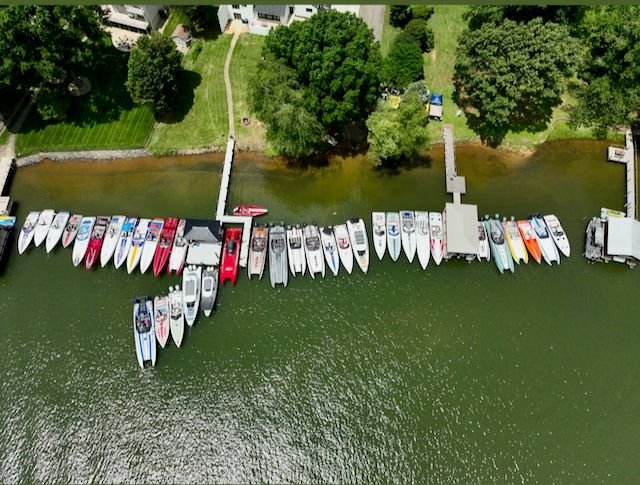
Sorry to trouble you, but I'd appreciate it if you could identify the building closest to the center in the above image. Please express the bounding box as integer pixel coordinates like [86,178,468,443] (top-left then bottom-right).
[441,205,479,264]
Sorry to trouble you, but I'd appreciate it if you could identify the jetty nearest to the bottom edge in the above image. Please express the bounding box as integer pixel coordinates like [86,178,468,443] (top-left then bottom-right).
[186,240,222,268]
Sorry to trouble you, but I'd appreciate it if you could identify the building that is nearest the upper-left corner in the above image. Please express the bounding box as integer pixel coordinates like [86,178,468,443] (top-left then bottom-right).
[97,0,181,34]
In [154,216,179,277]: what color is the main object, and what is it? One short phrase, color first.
red boat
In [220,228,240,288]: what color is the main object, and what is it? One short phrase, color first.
red boat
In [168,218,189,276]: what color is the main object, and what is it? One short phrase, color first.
white boat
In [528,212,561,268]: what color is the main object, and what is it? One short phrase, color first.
white boat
